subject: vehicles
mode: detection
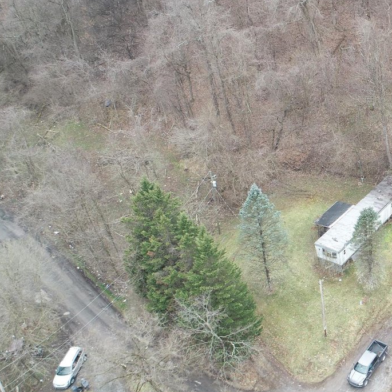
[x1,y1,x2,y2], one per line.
[51,346,89,389]
[347,339,390,389]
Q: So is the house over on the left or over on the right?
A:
right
